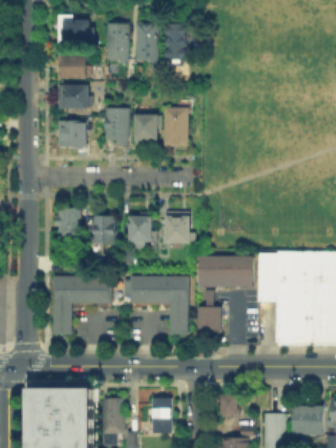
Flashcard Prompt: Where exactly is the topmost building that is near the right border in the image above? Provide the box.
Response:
[260,251,336,346]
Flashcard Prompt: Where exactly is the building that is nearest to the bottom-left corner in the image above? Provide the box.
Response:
[22,388,95,448]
